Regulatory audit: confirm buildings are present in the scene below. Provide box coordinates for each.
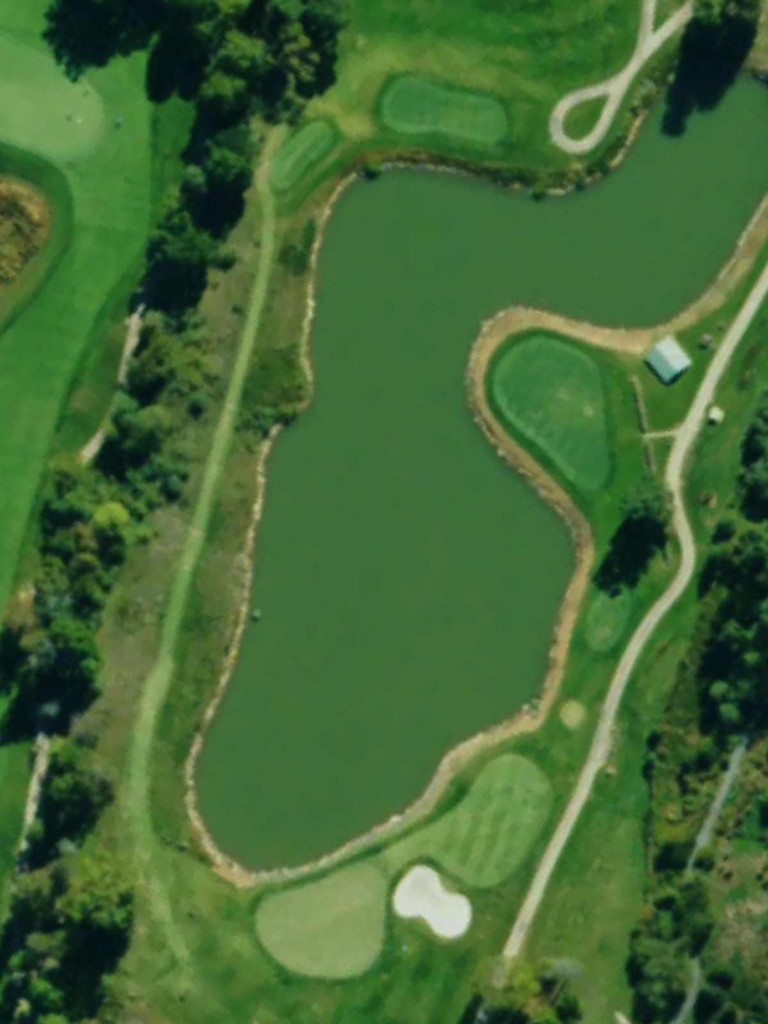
[644,337,692,382]
[708,406,725,424]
